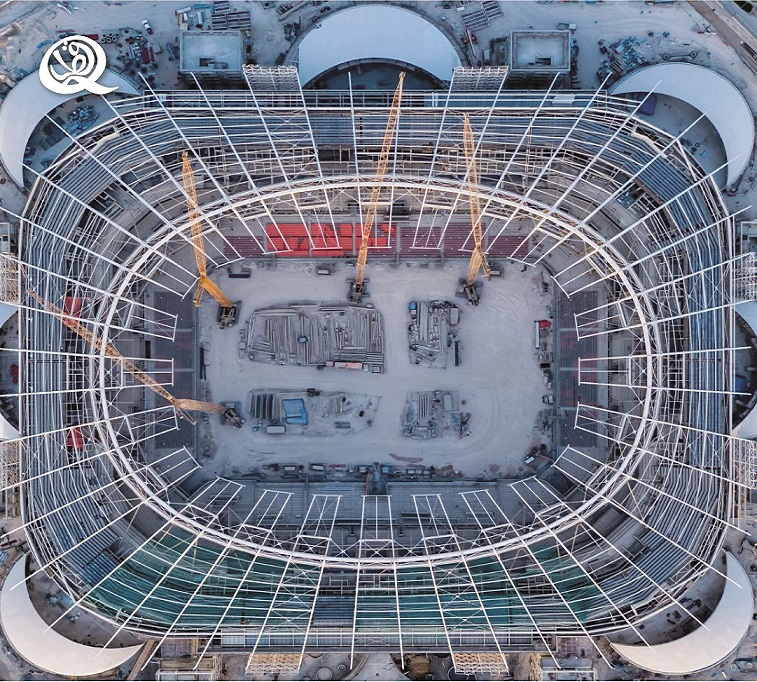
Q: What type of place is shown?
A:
sports ground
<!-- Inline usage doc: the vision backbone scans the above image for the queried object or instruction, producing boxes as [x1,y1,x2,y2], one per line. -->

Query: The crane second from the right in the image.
[344,70,404,310]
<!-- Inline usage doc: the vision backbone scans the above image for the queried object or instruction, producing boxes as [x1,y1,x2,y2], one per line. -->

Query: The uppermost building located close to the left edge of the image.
[0,59,143,197]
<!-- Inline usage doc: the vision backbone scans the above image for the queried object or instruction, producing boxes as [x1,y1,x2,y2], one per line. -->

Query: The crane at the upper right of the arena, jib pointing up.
[446,111,492,309]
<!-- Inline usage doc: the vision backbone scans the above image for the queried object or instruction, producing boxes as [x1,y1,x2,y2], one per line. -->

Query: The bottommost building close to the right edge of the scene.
[602,546,757,682]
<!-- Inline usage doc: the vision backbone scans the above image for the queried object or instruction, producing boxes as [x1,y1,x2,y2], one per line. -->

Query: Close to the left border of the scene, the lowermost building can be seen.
[0,546,149,682]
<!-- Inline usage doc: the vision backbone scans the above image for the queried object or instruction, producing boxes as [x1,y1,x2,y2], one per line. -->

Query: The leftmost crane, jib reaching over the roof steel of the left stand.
[25,288,249,429]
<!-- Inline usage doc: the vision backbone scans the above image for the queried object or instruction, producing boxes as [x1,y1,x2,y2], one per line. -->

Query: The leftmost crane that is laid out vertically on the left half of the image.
[182,151,233,337]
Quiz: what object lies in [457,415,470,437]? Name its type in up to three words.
vehicle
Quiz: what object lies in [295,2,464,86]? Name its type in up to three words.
building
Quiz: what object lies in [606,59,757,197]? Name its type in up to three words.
building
